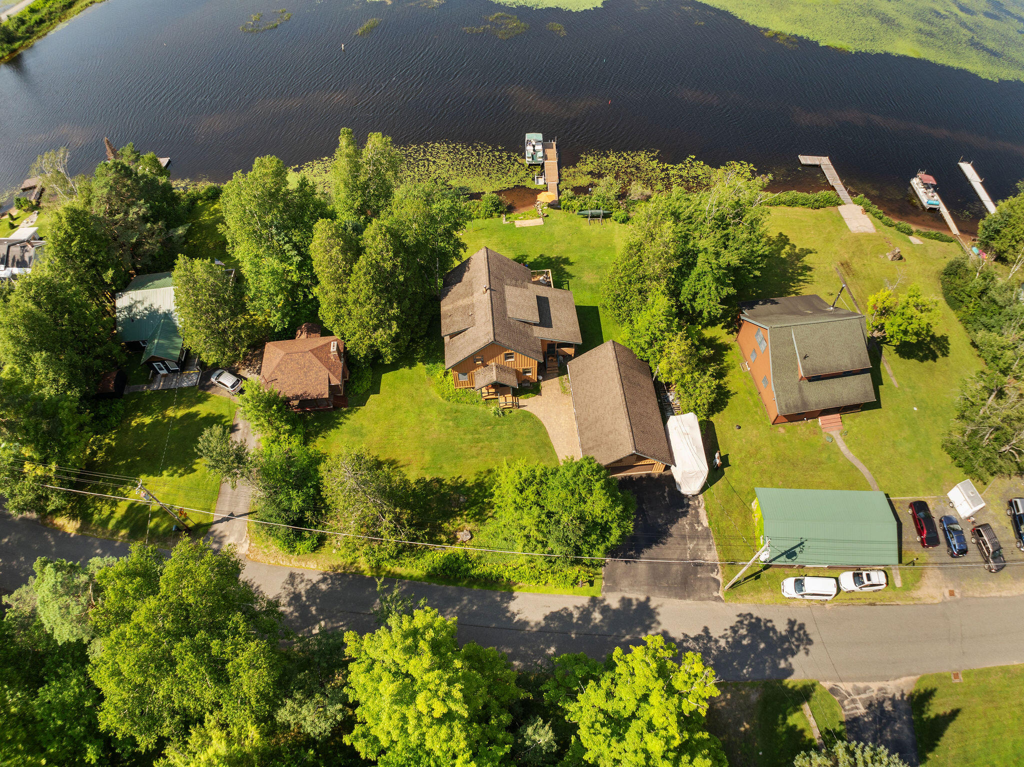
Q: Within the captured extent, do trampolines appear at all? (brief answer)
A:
No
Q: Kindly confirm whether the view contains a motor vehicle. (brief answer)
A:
Yes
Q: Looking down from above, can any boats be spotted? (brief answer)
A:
Yes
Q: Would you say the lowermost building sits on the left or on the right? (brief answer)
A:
right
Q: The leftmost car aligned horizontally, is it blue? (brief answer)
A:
No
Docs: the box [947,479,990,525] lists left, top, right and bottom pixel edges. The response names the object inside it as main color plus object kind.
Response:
white trailer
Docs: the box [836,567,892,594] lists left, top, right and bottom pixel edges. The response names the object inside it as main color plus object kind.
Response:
white car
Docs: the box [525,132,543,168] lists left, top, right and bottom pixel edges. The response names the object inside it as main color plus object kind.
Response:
white boat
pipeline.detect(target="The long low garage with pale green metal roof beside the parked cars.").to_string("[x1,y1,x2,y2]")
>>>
[751,488,901,570]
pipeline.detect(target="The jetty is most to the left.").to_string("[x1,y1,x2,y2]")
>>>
[20,175,44,202]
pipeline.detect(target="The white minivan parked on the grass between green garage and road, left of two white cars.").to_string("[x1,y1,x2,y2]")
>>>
[779,573,841,602]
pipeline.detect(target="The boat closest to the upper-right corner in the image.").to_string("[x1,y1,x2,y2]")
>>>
[908,173,943,211]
